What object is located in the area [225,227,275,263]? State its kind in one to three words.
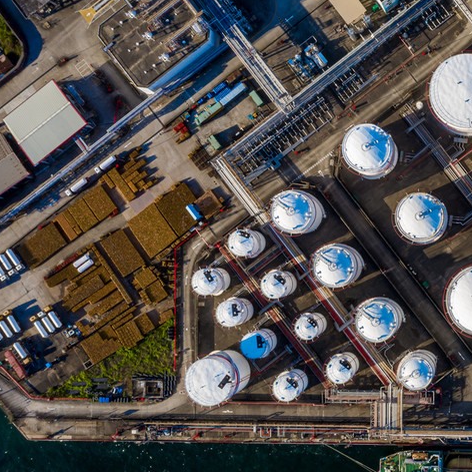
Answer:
storage tank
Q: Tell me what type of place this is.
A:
industrial area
